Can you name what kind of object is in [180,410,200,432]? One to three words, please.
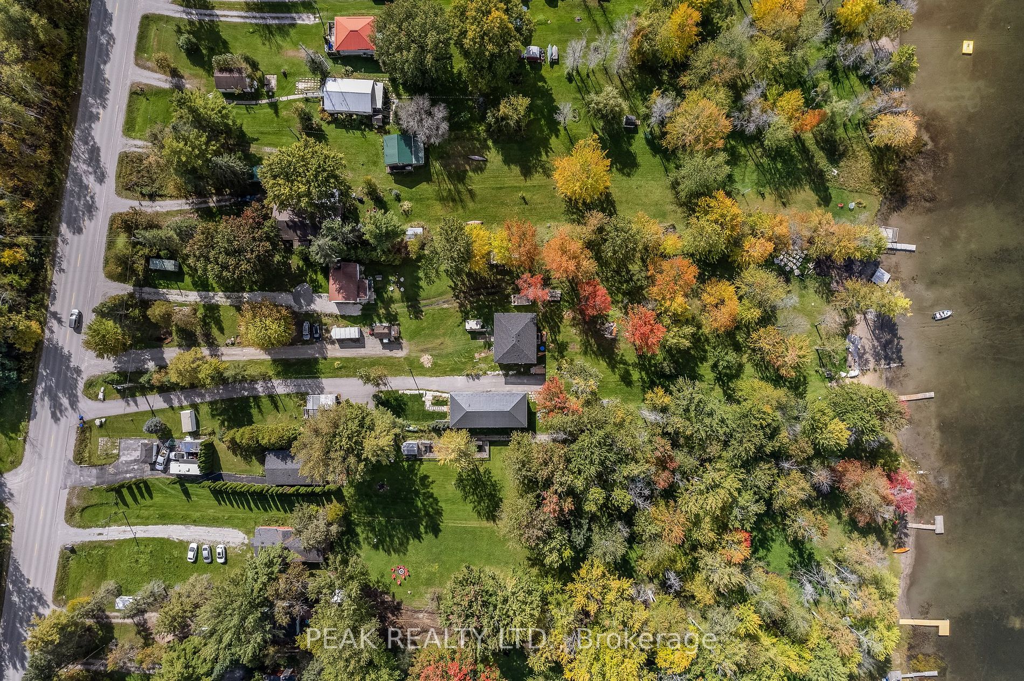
shed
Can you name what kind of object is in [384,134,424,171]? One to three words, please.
building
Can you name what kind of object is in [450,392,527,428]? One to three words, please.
house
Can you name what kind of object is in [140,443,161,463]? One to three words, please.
shed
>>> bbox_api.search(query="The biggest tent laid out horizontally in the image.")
[331,327,362,339]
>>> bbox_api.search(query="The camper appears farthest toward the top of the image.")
[522,46,541,60]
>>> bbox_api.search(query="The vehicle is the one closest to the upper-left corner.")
[68,308,81,328]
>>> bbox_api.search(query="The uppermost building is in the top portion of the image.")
[327,16,377,55]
